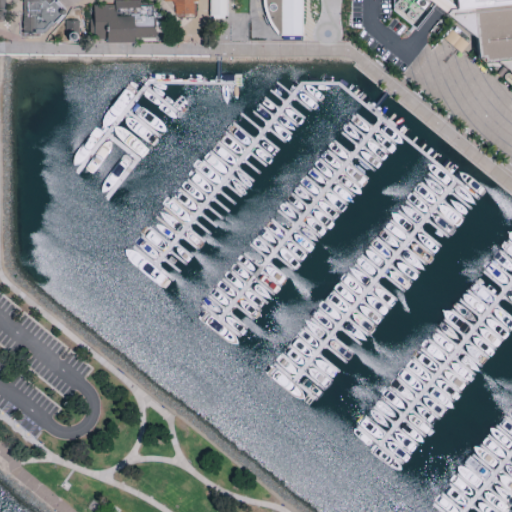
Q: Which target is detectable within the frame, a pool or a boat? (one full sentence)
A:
It is a boat that can be seen here.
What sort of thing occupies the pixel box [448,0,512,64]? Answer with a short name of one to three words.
building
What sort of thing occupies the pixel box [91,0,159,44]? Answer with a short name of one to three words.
building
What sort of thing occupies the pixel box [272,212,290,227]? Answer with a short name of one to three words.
boat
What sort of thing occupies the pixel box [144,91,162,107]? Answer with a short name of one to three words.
boat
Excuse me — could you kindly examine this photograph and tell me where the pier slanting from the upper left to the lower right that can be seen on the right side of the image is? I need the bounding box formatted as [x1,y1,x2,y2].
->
[296,76,483,204]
